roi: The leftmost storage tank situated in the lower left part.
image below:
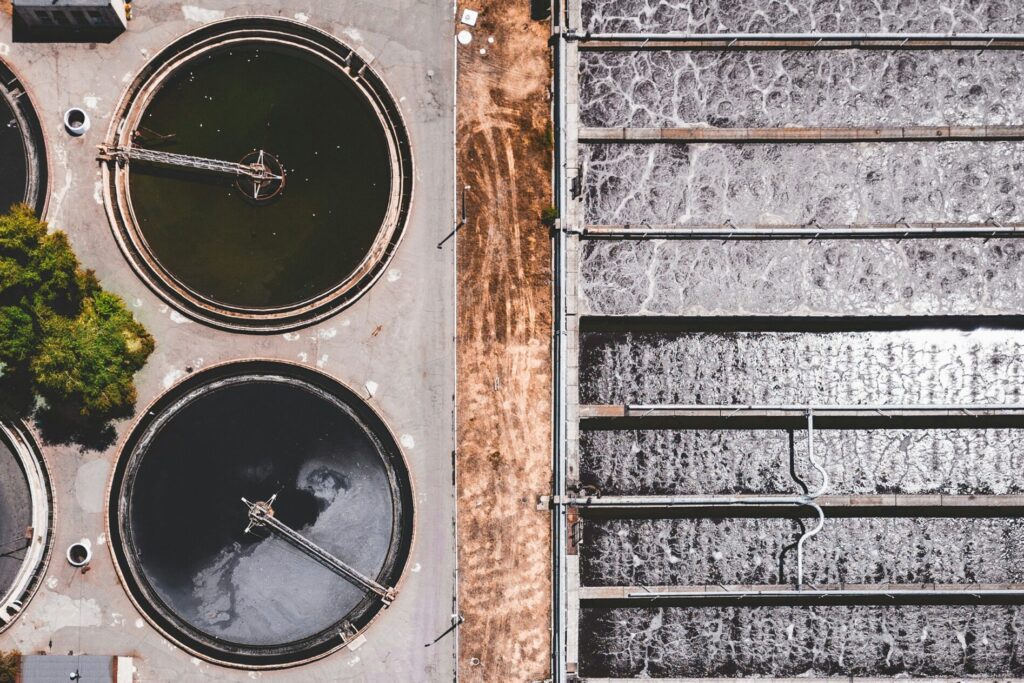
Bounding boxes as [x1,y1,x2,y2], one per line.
[0,395,58,636]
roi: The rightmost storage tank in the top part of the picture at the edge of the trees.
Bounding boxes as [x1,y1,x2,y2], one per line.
[102,17,414,331]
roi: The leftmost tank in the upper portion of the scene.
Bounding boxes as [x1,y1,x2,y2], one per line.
[0,55,50,229]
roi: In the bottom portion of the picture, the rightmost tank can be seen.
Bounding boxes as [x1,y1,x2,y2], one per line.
[106,359,415,668]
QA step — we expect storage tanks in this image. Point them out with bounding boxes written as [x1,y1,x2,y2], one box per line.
[106,359,415,668]
[102,17,414,331]
[0,55,50,229]
[0,395,58,636]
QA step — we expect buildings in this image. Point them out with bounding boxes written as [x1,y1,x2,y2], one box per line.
[16,656,140,683]
[13,0,125,29]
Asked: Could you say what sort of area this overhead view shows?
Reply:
industrial area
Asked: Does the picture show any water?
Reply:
Yes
